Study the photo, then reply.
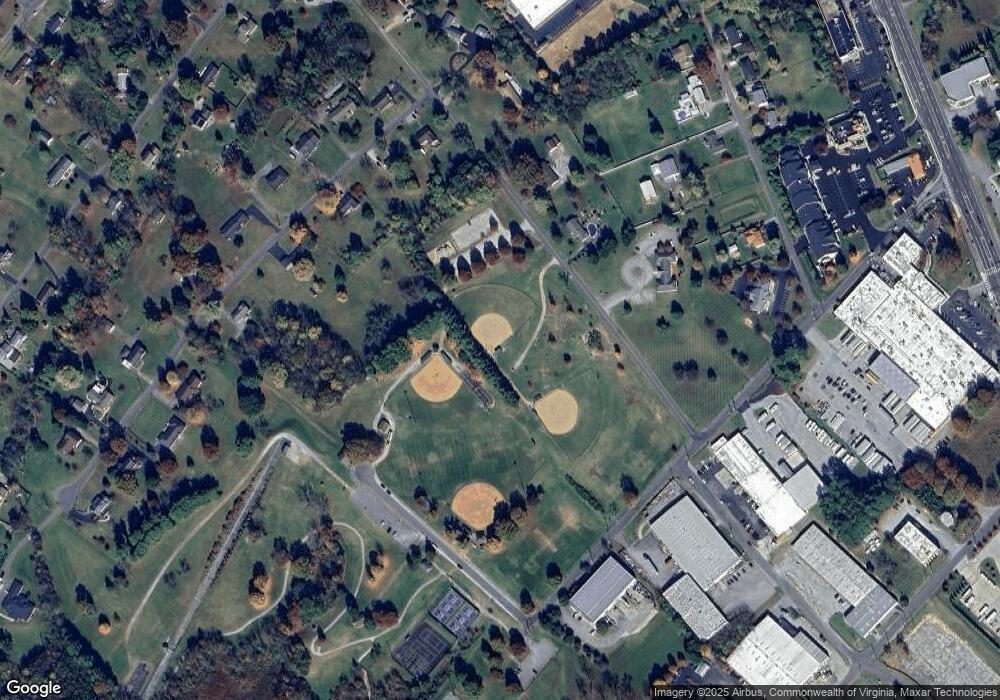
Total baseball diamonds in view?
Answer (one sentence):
In total, 4 baseball diamonds can be seen.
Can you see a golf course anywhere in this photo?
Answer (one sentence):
No, I can't see a single golf course in this photo.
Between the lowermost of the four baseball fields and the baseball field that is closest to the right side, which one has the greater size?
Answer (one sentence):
Compared with the lowermost of the four baseball fields, the baseball field that is closest to the right side is the larger one.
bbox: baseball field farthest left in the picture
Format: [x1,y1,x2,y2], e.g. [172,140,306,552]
[409,350,464,404]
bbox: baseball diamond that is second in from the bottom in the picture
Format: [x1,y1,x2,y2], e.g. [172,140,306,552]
[530,378,606,460]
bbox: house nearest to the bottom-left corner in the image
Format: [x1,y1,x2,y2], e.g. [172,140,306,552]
[5,586,34,621]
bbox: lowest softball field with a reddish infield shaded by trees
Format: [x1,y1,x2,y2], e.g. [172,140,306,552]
[450,481,505,533]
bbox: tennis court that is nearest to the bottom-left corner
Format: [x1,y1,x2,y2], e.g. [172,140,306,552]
[395,622,449,677]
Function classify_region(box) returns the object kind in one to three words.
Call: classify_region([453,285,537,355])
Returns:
baseball field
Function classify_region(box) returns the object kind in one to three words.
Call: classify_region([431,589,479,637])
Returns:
tennis court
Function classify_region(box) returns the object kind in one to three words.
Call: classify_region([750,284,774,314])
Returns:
house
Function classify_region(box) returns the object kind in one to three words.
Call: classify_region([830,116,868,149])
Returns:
building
